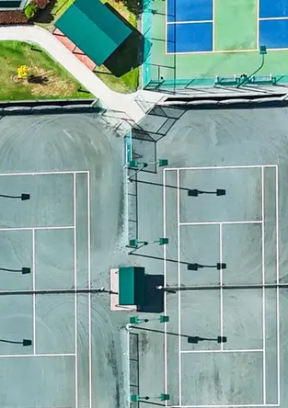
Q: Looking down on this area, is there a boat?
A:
No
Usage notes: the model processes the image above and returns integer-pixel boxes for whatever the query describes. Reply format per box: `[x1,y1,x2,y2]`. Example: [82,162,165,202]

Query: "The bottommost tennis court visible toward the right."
[128,101,288,408]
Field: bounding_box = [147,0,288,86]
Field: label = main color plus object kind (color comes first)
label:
green sports court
